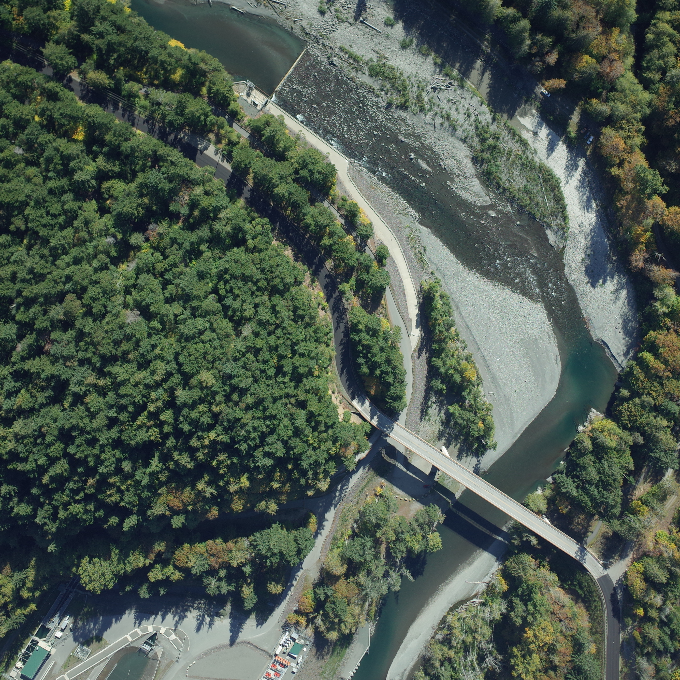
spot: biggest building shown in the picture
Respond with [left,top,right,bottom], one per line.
[20,643,53,679]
